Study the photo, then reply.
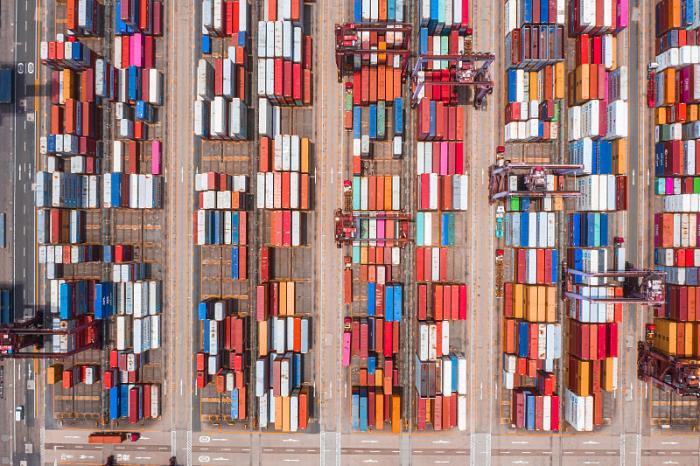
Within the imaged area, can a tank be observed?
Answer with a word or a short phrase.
No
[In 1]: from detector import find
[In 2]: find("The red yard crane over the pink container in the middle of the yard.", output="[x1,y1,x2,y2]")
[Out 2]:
[334,208,414,249]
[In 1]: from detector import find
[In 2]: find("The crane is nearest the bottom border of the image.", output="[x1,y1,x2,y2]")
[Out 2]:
[639,342,700,395]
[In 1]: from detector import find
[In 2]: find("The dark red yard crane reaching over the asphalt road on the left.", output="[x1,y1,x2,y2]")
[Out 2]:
[0,310,103,357]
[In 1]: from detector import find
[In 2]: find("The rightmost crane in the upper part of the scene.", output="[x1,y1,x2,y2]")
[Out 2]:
[492,161,586,204]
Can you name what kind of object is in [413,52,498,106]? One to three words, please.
crane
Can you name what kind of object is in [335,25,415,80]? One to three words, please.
crane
